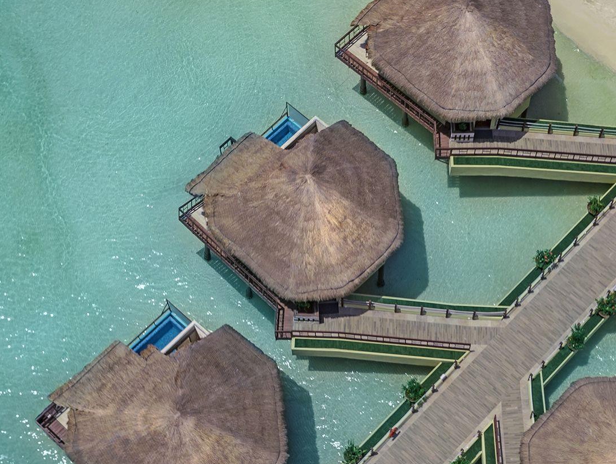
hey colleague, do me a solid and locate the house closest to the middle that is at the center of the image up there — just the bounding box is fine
[177,102,404,342]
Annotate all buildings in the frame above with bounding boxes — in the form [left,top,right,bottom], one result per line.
[337,0,557,162]
[36,294,290,464]
[177,102,404,342]
[516,379,616,464]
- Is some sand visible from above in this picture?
Yes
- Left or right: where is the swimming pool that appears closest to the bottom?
left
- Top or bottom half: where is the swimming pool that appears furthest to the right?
top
